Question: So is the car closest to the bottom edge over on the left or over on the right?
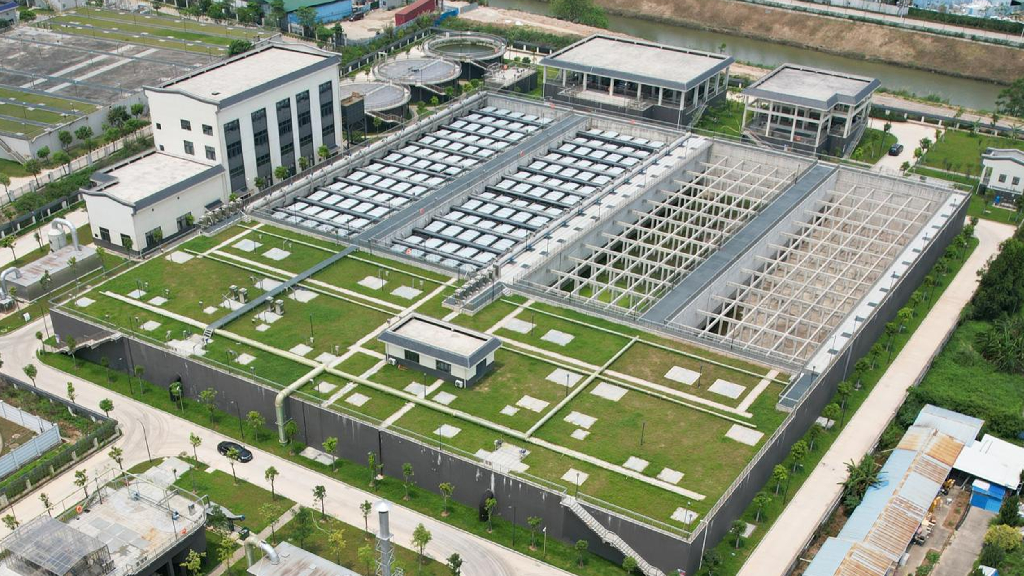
left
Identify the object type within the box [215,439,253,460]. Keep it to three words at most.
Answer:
car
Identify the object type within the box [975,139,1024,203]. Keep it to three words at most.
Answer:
house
